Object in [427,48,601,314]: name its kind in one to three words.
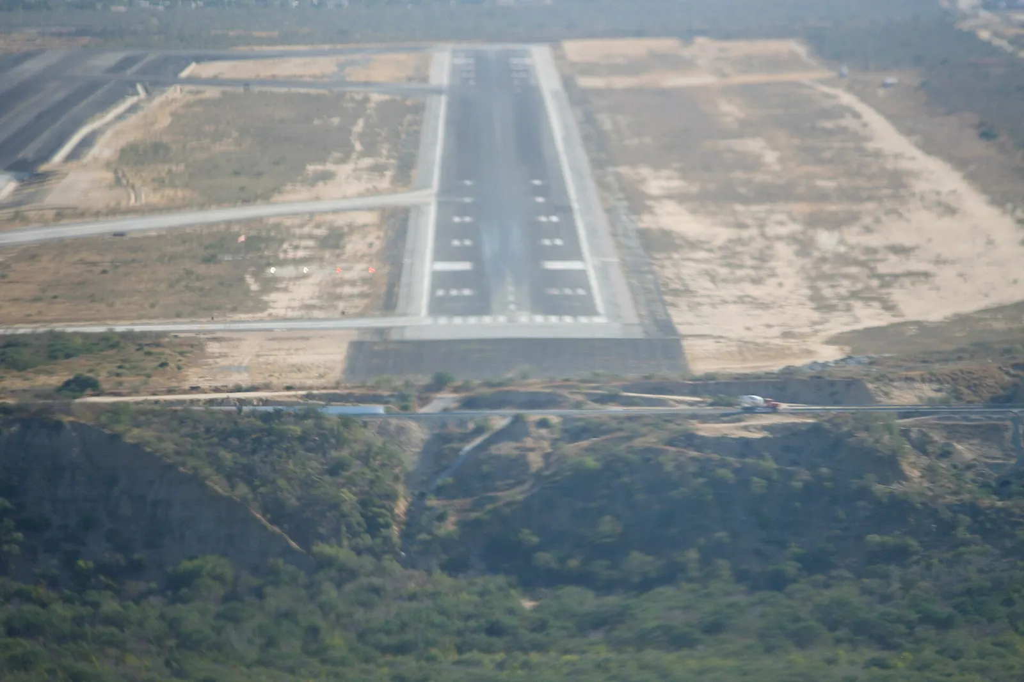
runway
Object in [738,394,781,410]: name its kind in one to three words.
vehicle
